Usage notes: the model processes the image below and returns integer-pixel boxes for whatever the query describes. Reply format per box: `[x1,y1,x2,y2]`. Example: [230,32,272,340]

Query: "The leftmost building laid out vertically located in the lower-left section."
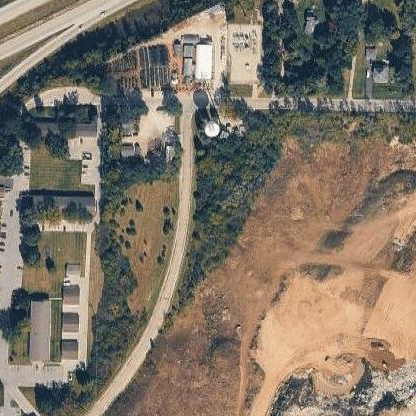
[30,301,51,363]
